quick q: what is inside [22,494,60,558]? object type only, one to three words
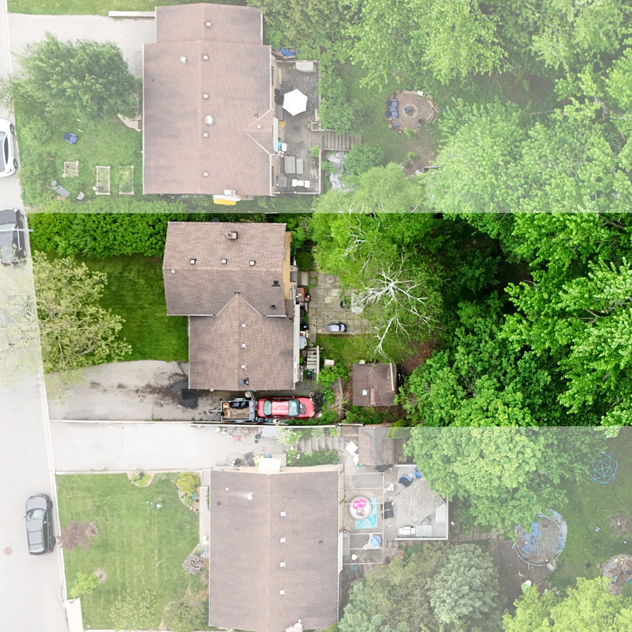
car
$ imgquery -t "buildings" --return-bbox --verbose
[352,362,397,406]
[162,221,302,393]
[136,0,282,201]
[209,459,351,632]
[358,424,396,465]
